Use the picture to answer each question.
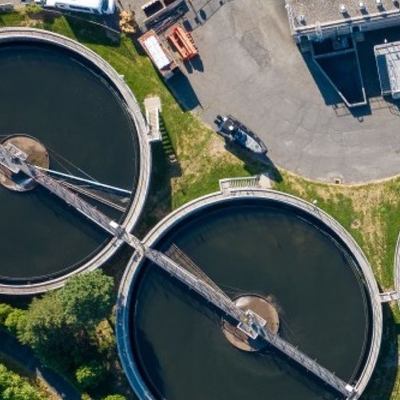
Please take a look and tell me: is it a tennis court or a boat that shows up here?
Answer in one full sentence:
Looking from above, you can make out a boat.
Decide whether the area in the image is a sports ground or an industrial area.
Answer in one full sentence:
This looks like an industrial area.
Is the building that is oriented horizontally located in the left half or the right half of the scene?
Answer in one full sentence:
You can find the building that is oriented horizontally on the right side of the picture.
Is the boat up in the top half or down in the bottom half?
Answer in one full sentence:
The top half of the photo is where the boat is.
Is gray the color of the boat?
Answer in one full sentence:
Yes, the boat is gray.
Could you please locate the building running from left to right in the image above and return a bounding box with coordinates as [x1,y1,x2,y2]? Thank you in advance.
[286,0,400,51]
